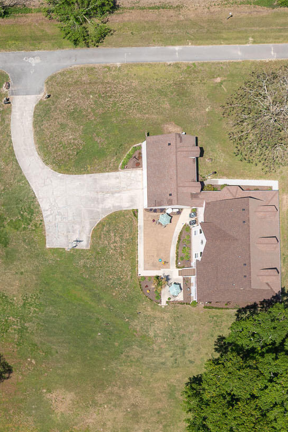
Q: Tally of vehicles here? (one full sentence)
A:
I count no vehicles.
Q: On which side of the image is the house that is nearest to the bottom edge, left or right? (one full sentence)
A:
The house that is nearest to the bottom edge appears in the right half of the scene.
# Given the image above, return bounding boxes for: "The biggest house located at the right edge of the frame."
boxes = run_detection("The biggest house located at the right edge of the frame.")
[190,185,280,301]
